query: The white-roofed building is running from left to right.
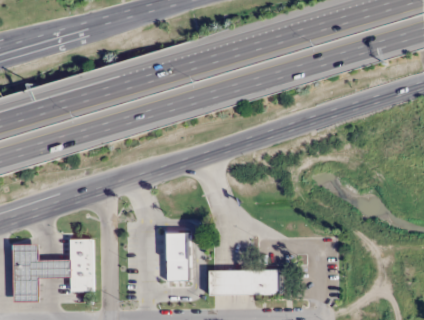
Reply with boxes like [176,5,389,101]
[208,270,281,296]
